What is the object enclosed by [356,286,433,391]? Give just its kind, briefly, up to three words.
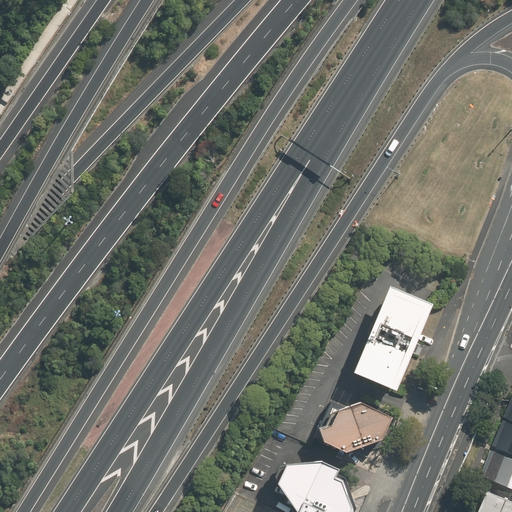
building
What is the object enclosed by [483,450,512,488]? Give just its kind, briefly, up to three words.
house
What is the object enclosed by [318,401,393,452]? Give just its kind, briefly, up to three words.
building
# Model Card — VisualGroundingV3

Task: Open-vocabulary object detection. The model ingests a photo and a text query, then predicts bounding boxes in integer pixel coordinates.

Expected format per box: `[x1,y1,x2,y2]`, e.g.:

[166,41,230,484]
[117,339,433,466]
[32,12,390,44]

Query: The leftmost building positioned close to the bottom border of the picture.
[276,459,354,512]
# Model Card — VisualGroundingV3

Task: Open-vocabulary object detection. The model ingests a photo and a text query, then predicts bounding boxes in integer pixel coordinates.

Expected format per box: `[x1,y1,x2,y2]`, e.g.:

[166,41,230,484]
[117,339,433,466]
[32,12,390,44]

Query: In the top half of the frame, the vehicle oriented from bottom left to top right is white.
[384,138,399,156]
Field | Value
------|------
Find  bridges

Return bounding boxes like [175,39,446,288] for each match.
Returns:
[0,0,162,276]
